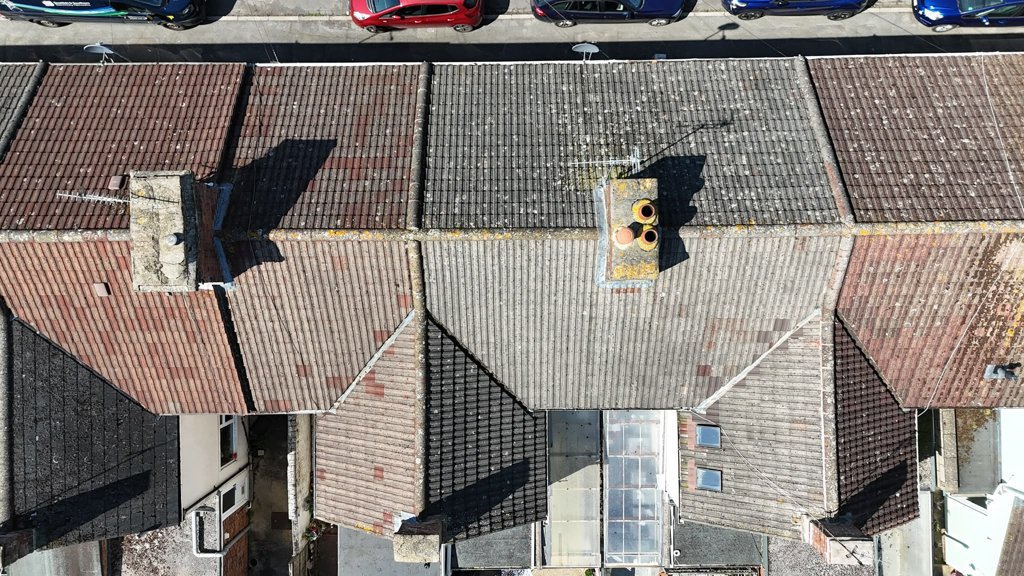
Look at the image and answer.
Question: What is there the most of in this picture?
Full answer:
The bulk of the photo consists of buildings.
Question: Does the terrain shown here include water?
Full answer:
No, water can't be seen anywhere here.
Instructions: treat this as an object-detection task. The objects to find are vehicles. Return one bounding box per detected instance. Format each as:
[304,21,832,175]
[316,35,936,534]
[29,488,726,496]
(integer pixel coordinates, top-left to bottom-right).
[910,0,1024,34]
[721,0,875,22]
[349,0,483,34]
[0,0,211,29]
[531,0,686,28]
